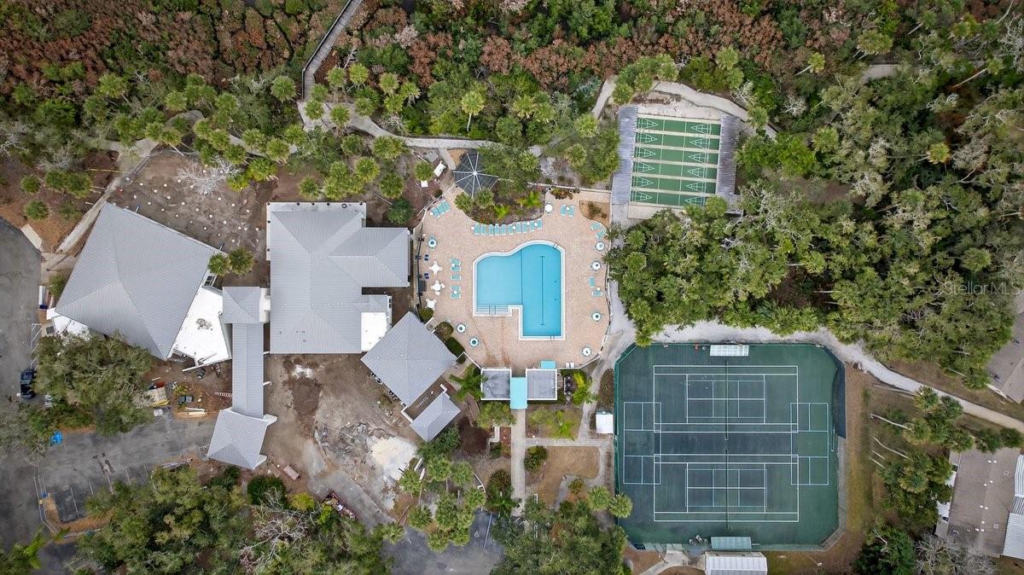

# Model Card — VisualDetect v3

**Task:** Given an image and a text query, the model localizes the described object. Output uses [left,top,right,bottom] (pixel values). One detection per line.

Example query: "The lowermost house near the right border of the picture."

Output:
[937,446,1021,557]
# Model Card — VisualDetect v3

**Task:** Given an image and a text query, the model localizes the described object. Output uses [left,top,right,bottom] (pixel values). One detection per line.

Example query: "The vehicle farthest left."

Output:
[15,369,33,400]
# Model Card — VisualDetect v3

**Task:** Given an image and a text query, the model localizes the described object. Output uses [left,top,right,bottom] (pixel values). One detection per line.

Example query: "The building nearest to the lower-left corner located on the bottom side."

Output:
[206,408,268,470]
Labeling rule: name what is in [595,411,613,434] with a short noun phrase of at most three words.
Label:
shed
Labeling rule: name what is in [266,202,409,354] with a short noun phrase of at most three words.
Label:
building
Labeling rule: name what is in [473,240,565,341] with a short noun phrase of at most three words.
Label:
swimming pool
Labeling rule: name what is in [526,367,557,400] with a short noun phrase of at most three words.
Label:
building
